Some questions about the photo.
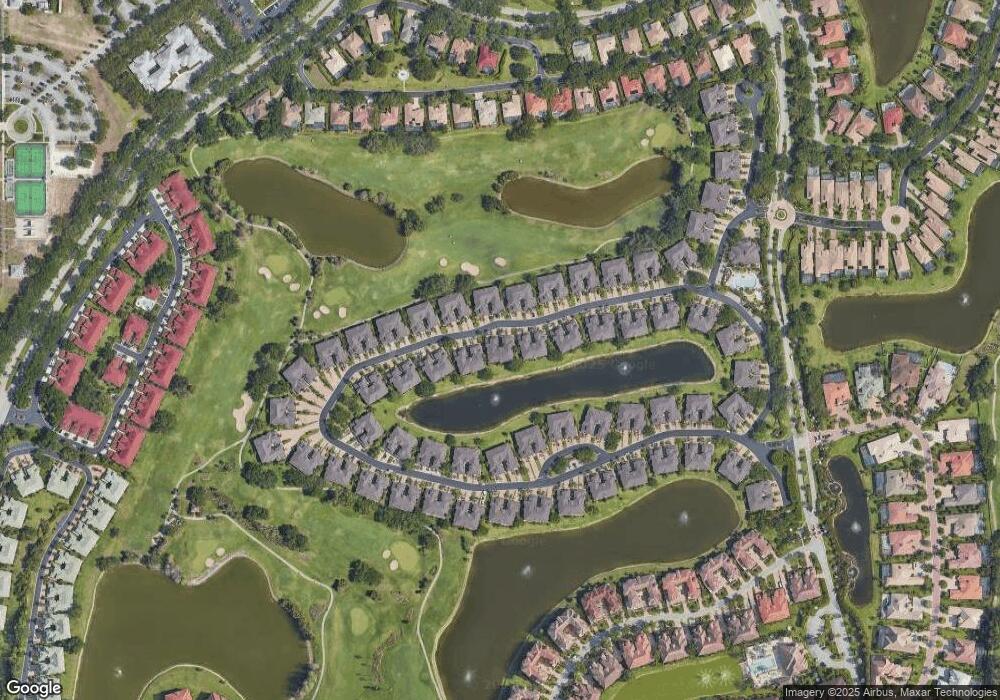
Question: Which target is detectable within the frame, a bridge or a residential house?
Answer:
residential house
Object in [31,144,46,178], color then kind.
green tennis court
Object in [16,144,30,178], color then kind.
green tennis court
